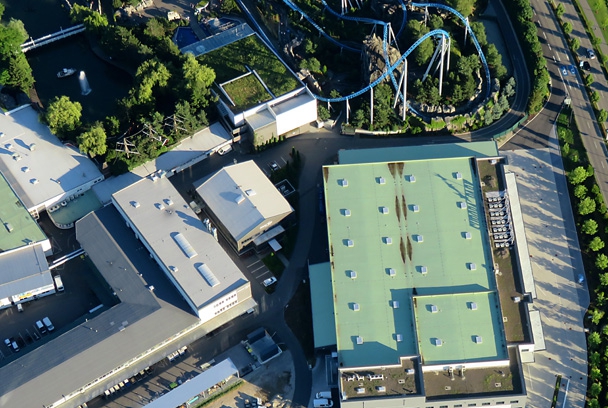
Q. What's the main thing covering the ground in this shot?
buildings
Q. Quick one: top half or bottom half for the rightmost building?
bottom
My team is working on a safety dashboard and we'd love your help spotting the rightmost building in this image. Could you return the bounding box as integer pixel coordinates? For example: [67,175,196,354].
[309,141,545,408]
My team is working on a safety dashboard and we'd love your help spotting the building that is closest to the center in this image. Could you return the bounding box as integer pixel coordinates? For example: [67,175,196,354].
[200,160,294,255]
